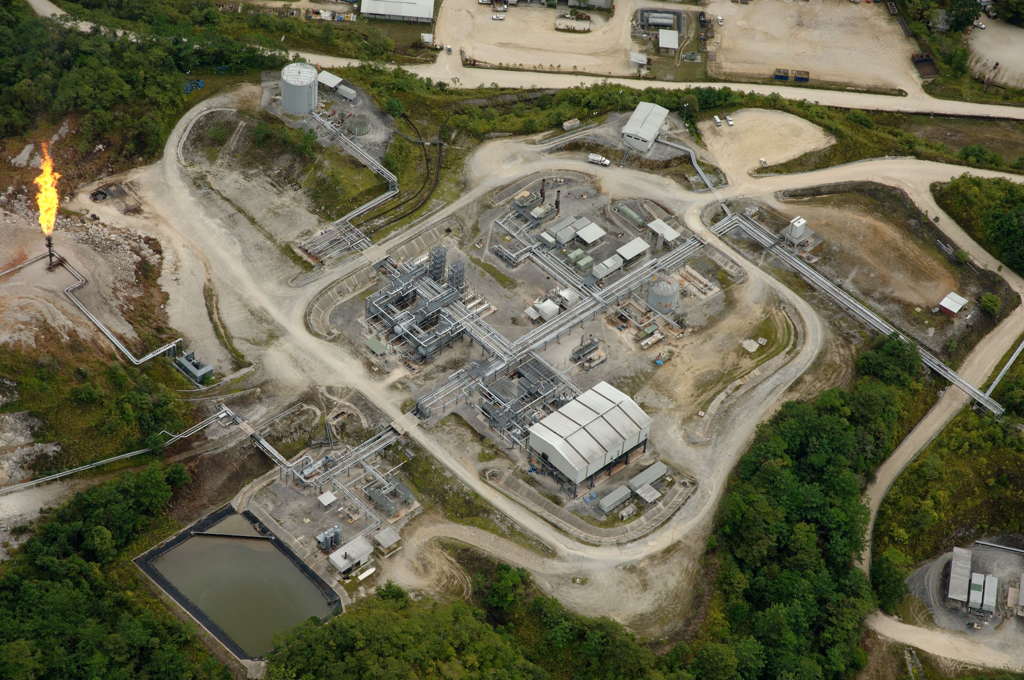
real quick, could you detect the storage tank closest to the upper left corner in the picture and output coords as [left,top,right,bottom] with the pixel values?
[279,60,319,117]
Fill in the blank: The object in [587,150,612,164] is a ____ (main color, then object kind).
white vehicle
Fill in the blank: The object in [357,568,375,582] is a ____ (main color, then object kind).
white boat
